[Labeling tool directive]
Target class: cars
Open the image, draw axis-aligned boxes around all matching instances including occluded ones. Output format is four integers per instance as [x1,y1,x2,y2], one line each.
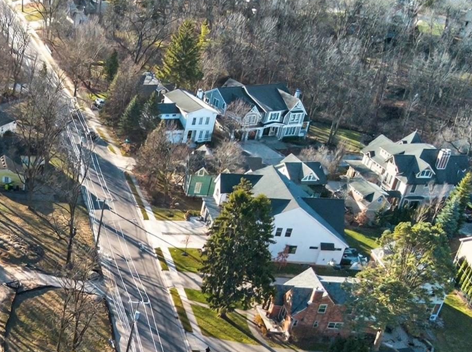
[85,127,101,142]
[86,94,111,106]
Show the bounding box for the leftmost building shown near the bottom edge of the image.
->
[259,267,380,344]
